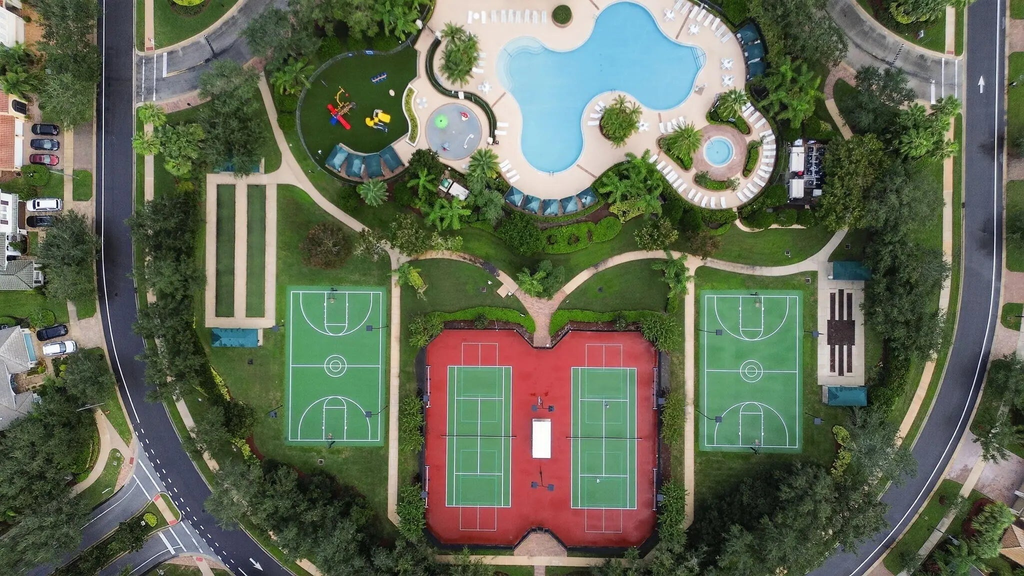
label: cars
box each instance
[28,215,54,228]
[31,153,61,166]
[29,198,63,212]
[36,325,69,340]
[43,340,78,354]
[32,138,61,151]
[32,123,61,136]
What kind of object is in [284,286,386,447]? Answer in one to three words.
basketball court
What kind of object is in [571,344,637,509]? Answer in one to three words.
tennis court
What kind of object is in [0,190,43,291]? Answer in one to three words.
house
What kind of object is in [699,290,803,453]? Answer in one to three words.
basketball court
